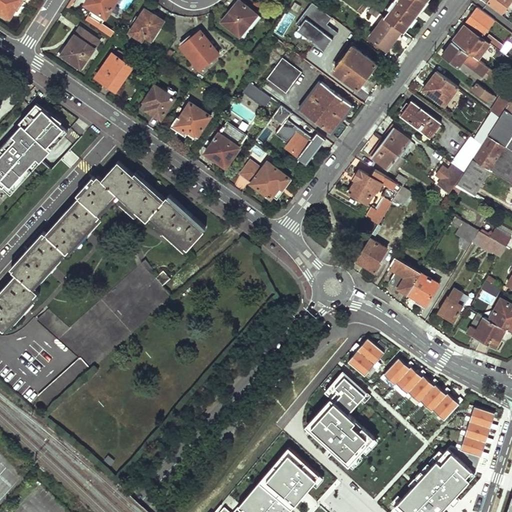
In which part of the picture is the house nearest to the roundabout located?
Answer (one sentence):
The house nearest to the roundabout appears toward the right of the photo.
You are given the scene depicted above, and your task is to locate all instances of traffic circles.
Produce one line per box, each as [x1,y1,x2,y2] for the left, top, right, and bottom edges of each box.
[311,266,354,308]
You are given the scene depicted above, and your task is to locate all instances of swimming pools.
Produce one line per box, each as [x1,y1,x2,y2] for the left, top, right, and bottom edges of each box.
[258,128,272,142]
[276,12,296,37]
[118,0,132,10]
[251,144,268,161]
[476,288,500,307]
[232,102,256,124]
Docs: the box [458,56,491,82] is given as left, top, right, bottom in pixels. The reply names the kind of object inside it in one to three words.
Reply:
house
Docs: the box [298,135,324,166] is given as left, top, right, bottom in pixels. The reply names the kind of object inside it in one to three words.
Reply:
shed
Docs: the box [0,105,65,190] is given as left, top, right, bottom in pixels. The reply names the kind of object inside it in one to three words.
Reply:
building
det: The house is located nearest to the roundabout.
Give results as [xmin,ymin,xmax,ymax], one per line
[355,238,390,275]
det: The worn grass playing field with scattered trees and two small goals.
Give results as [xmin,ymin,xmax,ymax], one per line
[50,236,280,474]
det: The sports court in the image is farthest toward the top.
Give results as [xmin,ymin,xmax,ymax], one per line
[38,256,169,368]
